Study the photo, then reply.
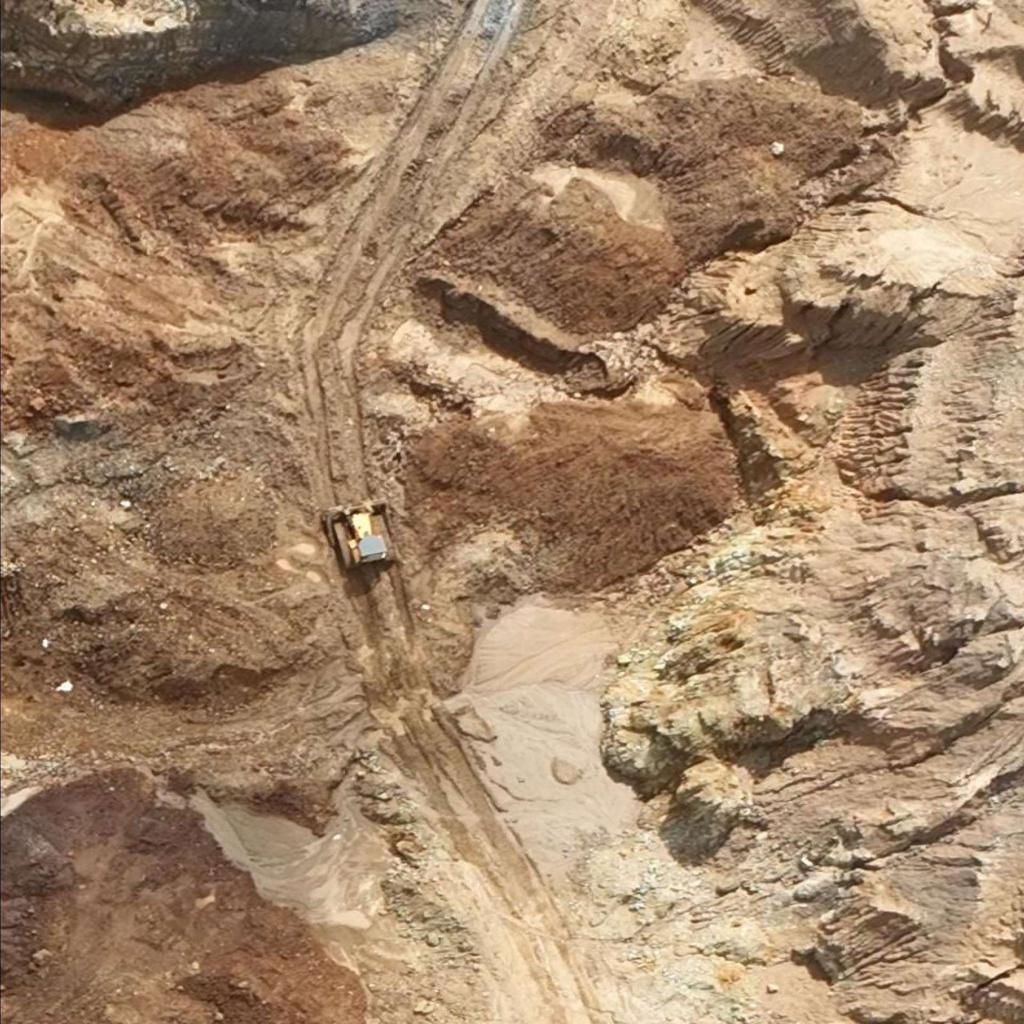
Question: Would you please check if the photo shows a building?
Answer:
No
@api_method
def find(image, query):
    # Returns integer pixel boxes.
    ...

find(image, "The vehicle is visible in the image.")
[331,498,394,566]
